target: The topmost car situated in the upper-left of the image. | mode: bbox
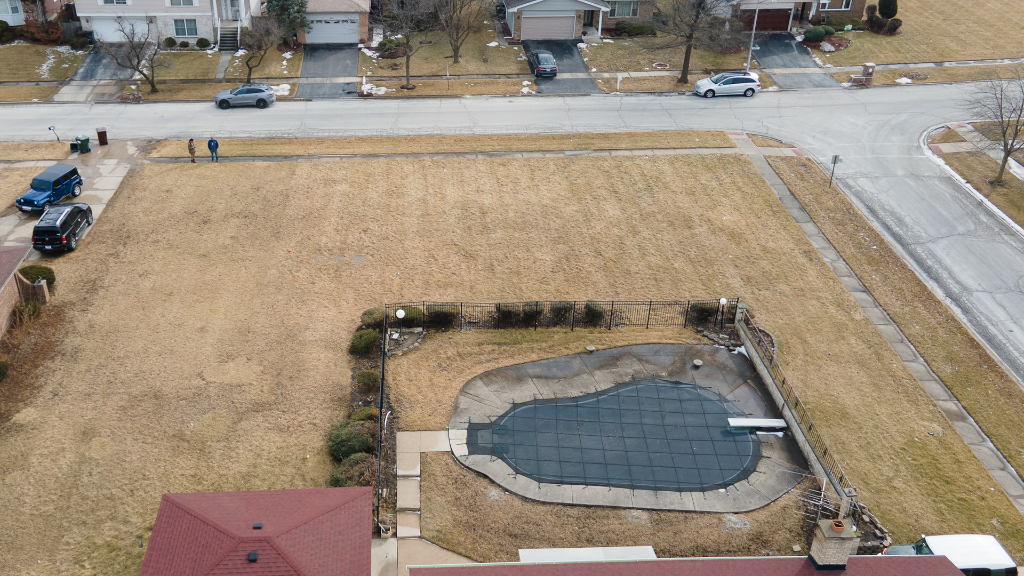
[214,82,276,109]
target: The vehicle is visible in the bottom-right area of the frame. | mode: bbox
[877,537,1020,576]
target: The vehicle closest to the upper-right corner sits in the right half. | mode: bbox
[693,71,764,98]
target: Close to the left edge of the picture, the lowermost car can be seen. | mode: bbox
[30,204,92,255]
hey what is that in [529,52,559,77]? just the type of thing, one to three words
car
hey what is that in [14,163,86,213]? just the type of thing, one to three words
car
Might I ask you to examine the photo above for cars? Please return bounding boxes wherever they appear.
[693,71,764,98]
[30,204,92,255]
[877,537,1020,576]
[14,163,86,213]
[214,82,276,109]
[529,52,559,77]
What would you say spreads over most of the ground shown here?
grass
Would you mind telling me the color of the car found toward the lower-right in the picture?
white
